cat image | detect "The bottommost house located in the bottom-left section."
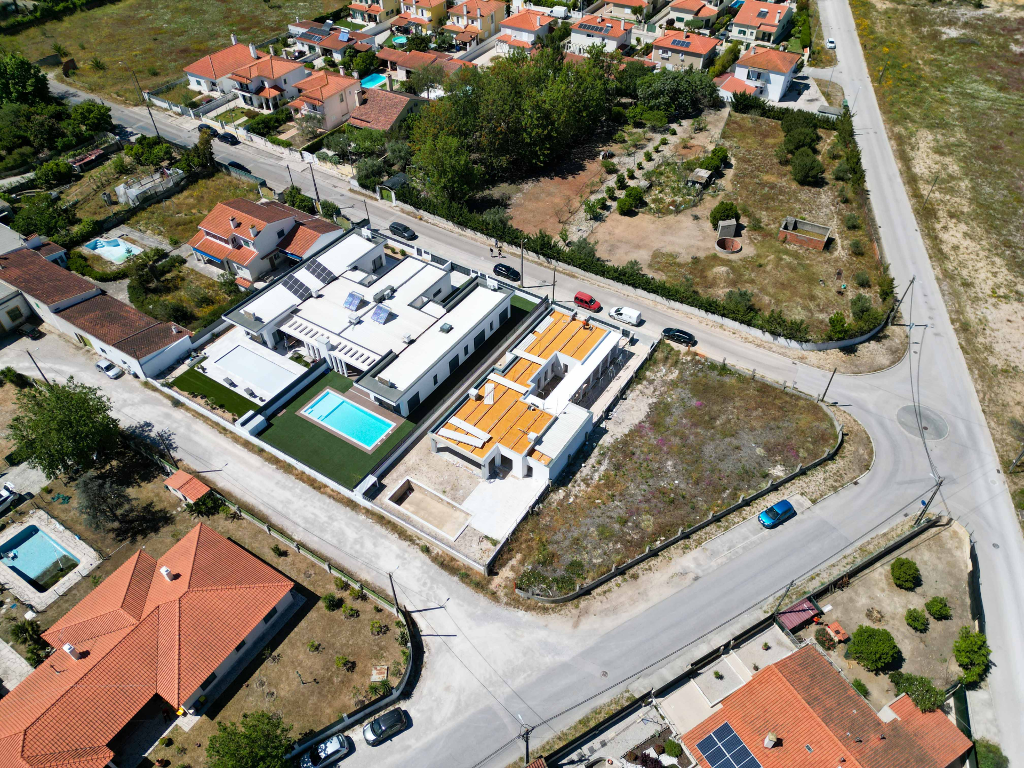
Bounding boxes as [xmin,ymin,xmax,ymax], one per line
[0,521,294,768]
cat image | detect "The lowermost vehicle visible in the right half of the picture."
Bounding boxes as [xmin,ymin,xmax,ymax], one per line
[757,494,802,528]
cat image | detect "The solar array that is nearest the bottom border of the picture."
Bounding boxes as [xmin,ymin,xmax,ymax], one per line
[696,722,763,768]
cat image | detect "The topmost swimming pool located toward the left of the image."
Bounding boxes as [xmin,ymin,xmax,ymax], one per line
[389,35,409,47]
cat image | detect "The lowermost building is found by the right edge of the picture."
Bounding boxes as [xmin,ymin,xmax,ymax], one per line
[682,645,973,768]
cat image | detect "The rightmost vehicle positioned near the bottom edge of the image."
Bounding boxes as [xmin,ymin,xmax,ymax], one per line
[360,703,410,747]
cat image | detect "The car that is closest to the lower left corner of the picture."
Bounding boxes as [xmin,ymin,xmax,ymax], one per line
[0,478,21,509]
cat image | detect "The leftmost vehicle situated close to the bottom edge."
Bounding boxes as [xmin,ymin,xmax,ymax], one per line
[298,728,349,768]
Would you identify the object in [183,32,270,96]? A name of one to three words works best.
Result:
house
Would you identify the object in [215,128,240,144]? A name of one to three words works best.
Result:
car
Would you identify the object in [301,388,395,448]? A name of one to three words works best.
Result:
swimming pool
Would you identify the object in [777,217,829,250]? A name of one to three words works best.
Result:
storage tank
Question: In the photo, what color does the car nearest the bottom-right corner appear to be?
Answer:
blue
